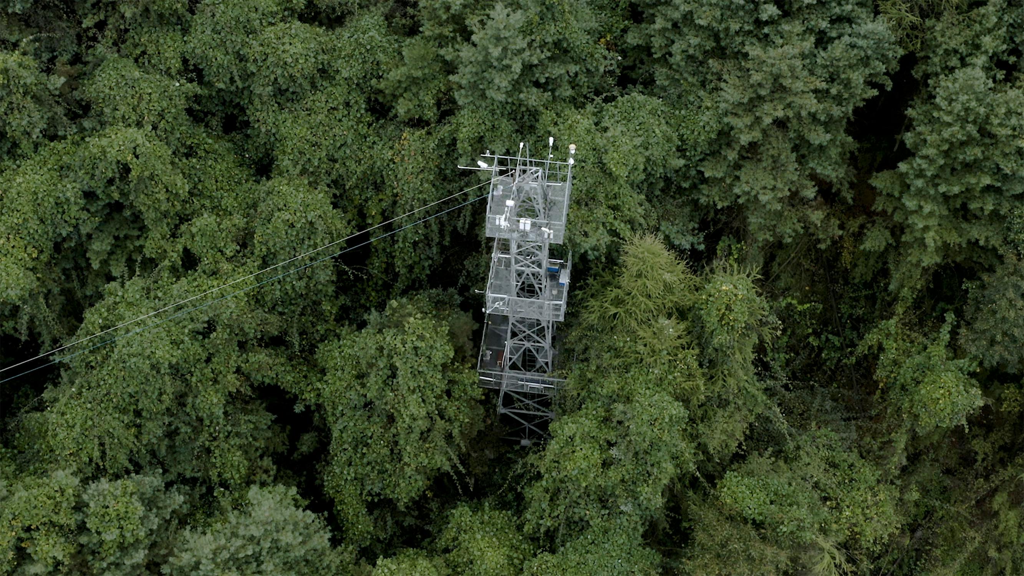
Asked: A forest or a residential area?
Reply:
forest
